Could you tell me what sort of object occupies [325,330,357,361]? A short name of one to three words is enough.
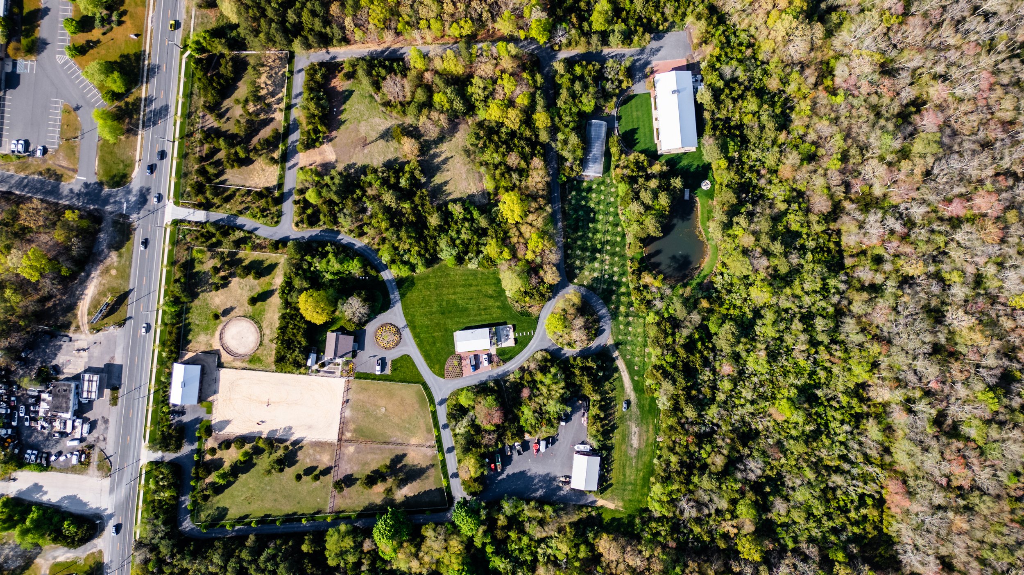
house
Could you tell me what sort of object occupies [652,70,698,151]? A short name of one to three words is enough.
barn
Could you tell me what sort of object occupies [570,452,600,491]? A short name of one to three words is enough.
building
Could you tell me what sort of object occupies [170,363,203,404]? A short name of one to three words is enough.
building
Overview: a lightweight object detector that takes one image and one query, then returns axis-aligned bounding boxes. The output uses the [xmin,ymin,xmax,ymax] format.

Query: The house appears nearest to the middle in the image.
[455,328,491,352]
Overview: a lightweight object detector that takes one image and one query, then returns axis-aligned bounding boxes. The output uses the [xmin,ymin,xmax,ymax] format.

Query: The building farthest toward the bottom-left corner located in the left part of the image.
[40,382,80,419]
